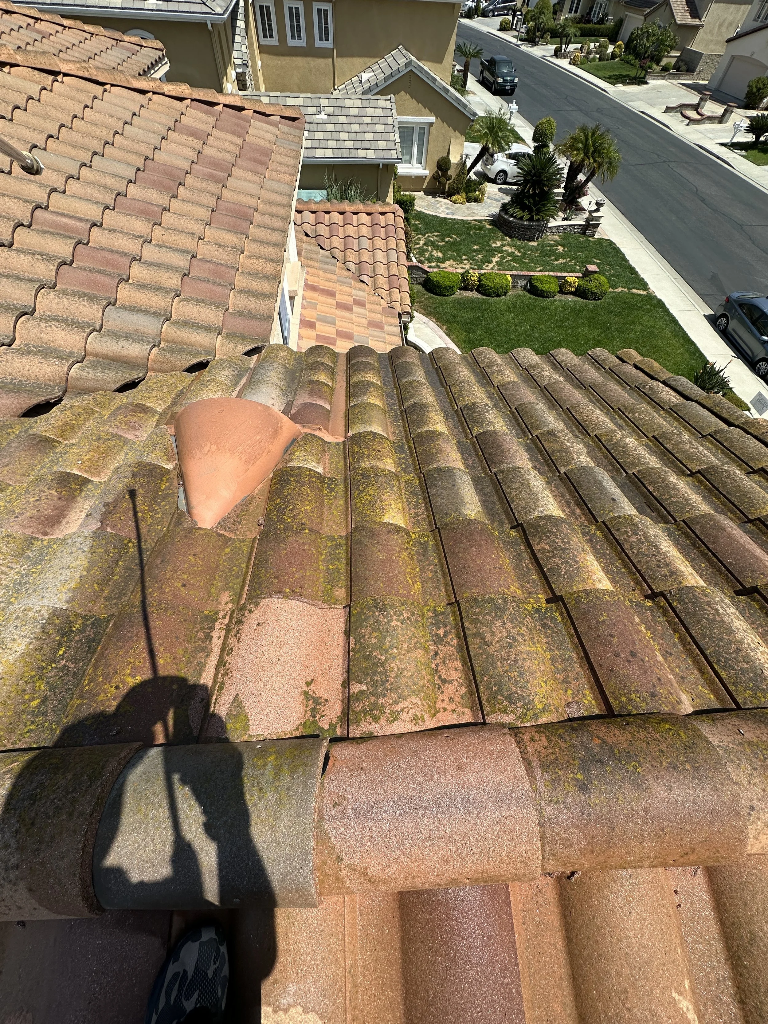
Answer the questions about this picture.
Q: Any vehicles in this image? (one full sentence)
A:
Yes, a vehicle is visible in the scene.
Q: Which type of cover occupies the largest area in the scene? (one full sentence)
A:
The scene is dominated by buildings.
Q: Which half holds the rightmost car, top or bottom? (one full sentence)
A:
Seen from above, the rightmost car lies in the top half of the view.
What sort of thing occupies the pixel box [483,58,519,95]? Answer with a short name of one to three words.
truck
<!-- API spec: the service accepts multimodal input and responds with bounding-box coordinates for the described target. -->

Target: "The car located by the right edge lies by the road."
[713,294,768,383]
